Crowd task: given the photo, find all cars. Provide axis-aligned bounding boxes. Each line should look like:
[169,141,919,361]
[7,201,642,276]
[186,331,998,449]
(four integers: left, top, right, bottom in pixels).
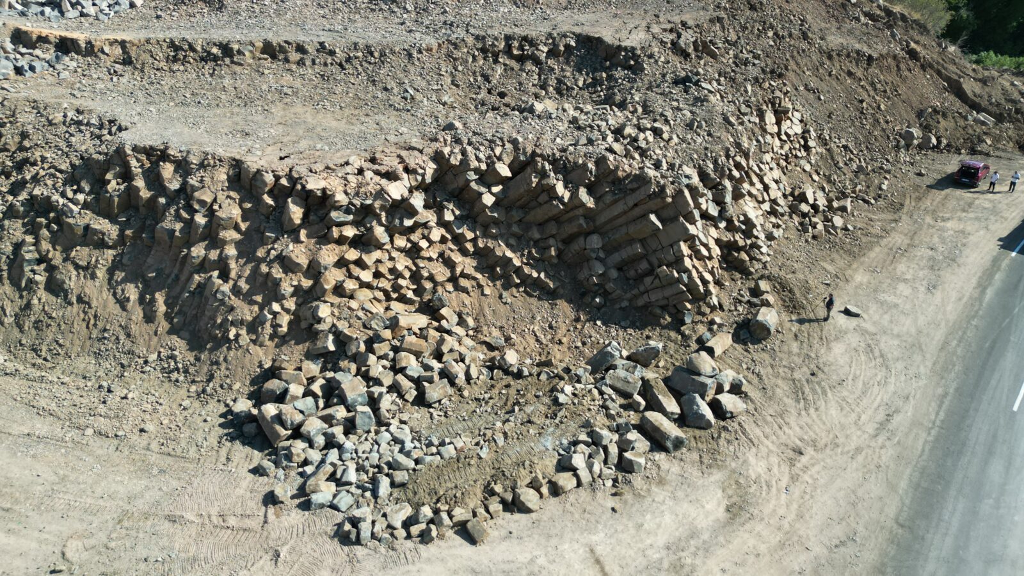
[955,161,995,187]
